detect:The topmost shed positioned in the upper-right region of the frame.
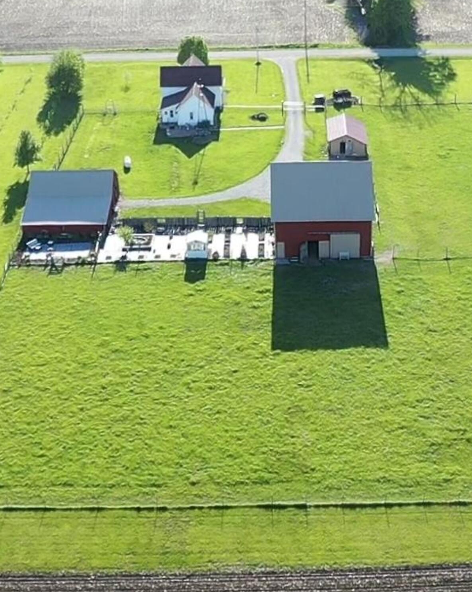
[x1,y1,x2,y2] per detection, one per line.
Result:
[328,109,369,156]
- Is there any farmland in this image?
Yes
